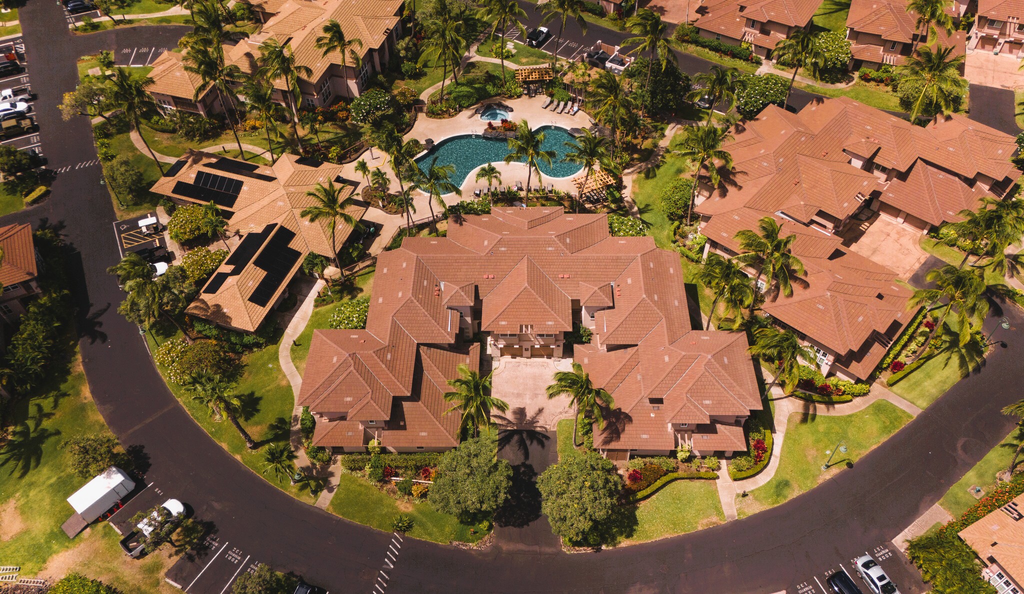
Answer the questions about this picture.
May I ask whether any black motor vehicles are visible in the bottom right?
Yes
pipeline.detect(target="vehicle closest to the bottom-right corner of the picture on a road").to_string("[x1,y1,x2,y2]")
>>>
[857,549,906,594]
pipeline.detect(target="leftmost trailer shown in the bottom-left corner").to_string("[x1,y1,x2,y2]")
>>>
[56,466,141,545]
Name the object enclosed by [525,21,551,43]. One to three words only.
car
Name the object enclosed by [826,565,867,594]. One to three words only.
car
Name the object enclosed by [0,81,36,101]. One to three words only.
vehicle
